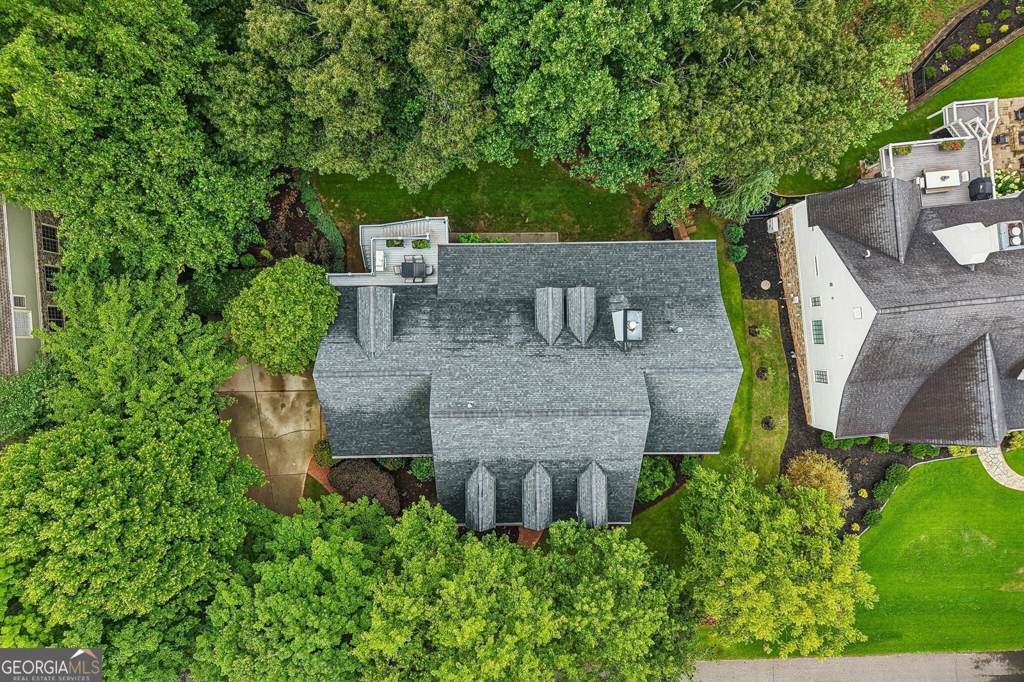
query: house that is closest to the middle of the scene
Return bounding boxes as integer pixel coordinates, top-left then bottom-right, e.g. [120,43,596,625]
[313,240,743,532]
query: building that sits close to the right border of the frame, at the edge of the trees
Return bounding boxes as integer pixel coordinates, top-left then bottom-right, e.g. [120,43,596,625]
[772,176,1024,445]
